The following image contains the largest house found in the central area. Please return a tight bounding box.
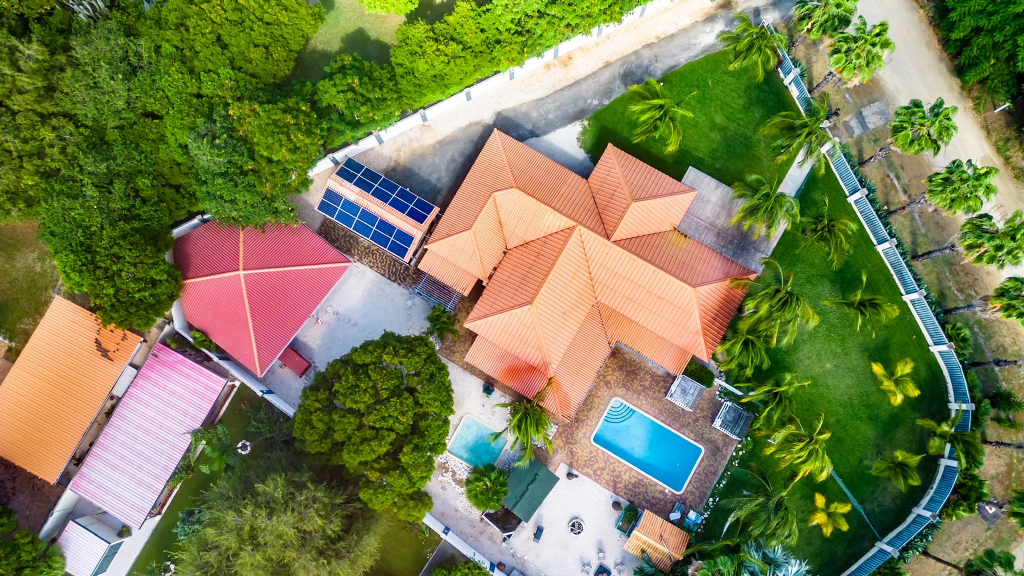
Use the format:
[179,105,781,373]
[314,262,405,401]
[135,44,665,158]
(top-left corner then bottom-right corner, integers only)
[418,127,759,423]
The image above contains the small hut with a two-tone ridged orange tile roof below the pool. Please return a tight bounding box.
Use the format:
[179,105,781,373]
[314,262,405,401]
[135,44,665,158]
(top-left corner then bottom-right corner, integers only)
[624,510,689,574]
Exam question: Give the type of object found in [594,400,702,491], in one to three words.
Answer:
swimming pool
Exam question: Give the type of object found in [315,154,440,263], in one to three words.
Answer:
shed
